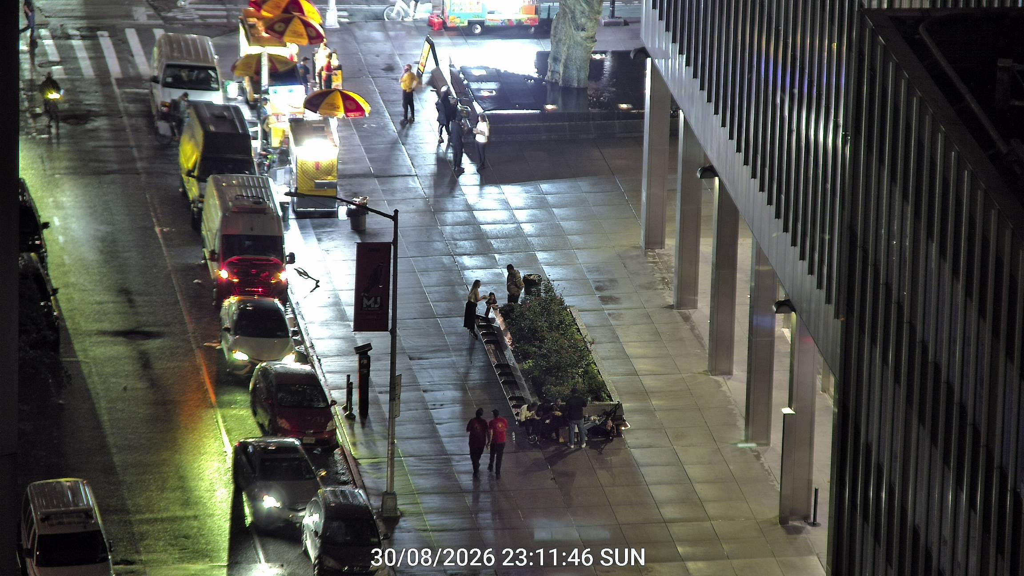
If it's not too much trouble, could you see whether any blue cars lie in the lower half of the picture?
No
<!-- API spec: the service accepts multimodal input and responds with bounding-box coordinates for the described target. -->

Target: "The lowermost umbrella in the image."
[306,88,371,137]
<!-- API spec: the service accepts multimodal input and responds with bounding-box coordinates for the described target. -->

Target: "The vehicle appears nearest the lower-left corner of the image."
[20,478,122,576]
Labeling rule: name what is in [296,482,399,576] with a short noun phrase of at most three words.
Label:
car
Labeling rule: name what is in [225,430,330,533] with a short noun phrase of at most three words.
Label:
car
